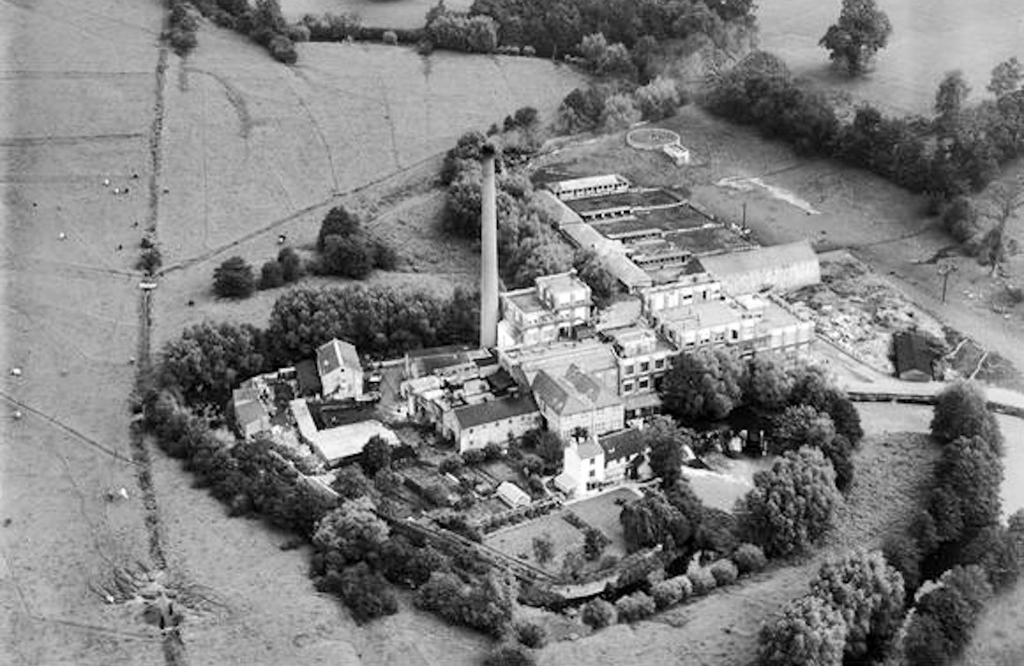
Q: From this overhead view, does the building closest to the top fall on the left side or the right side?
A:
right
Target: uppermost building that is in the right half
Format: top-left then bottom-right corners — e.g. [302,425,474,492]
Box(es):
[666,145,689,165]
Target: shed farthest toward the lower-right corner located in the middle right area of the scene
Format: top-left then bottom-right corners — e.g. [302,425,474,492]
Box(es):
[894,330,936,383]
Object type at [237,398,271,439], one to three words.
house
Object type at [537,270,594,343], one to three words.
building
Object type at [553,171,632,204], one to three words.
shed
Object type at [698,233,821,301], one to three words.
shed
